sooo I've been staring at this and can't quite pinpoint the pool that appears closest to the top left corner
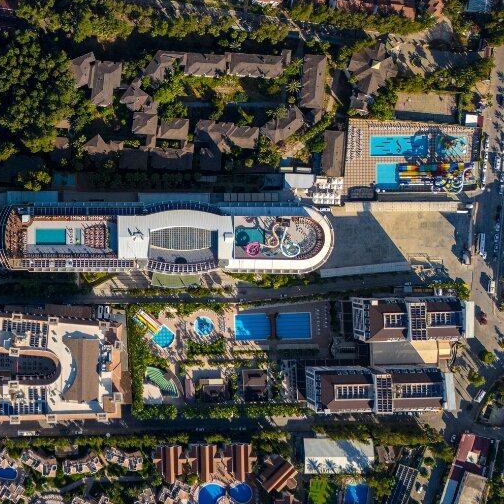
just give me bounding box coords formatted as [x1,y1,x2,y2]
[53,173,76,186]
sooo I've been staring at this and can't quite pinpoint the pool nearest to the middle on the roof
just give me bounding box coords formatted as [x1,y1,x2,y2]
[236,226,266,246]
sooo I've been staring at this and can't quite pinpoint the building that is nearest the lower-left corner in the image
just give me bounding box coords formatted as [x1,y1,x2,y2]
[0,478,25,504]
